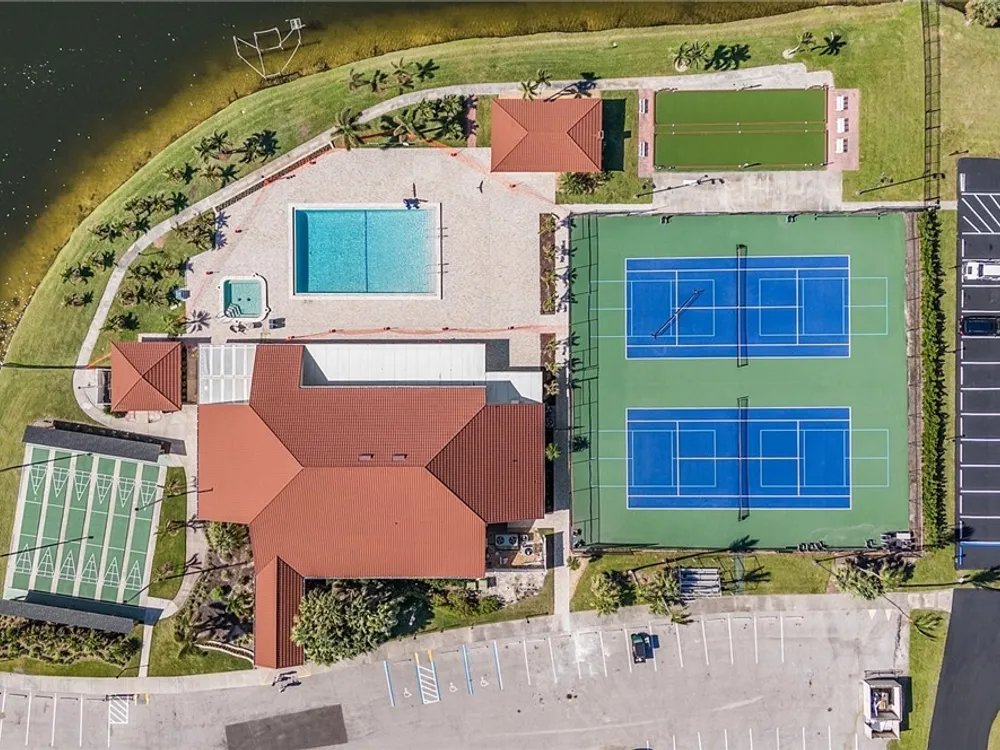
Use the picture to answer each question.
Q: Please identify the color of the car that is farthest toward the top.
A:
white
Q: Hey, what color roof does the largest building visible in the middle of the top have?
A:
red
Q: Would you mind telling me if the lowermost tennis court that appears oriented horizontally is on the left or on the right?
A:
right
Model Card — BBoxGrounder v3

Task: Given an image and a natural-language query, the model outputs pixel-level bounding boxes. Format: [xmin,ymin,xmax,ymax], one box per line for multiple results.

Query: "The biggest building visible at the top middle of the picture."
[490,97,603,173]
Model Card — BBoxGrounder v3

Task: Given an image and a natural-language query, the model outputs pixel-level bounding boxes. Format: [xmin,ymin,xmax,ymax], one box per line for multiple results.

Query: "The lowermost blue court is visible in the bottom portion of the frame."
[598,407,889,510]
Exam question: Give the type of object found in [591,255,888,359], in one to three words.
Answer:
tennis court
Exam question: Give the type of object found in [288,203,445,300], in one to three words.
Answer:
swimming pool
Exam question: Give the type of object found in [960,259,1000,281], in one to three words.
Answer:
car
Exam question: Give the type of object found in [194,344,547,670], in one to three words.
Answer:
building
